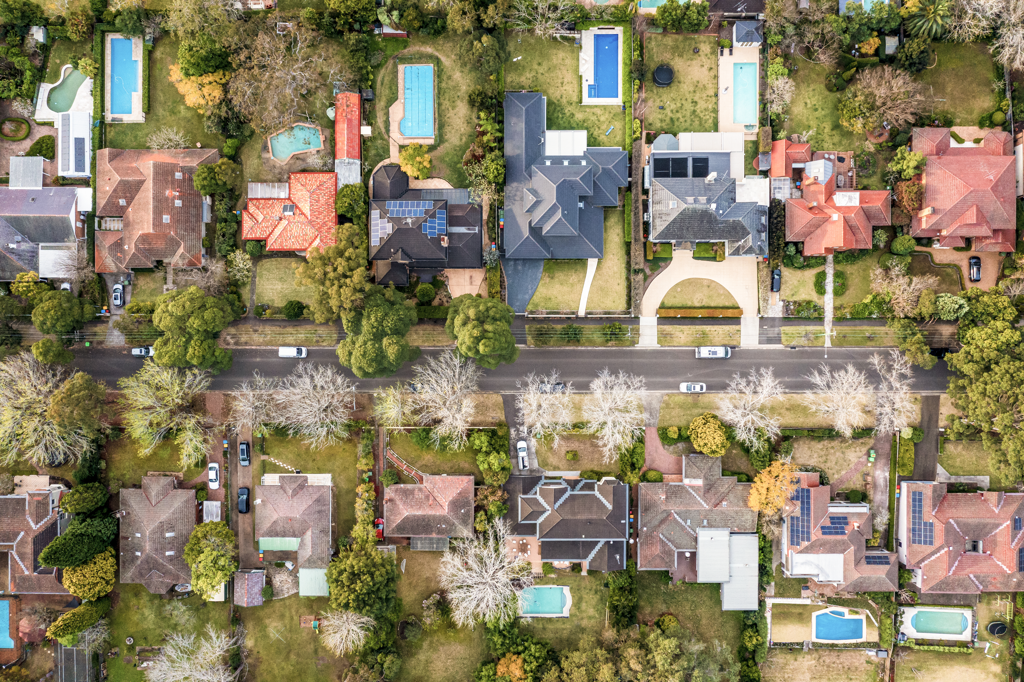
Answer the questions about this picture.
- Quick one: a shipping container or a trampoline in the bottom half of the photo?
trampoline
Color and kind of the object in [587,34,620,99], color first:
blue swimming pool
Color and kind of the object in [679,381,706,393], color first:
white vehicle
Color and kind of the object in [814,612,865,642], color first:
blue swimming pool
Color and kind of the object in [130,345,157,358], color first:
white vehicle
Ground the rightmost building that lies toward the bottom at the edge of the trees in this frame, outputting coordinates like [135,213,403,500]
[894,479,1024,594]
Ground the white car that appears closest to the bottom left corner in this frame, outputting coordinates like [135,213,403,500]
[207,463,221,489]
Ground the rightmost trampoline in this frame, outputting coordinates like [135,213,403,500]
[986,617,1015,642]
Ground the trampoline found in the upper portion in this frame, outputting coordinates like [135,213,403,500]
[654,61,677,87]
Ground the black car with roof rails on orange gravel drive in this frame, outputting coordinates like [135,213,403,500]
[967,256,983,283]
